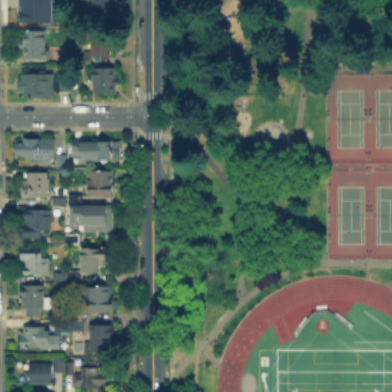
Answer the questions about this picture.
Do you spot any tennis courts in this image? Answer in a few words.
Yes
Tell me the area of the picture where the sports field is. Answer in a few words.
bottom right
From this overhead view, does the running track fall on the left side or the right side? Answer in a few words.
right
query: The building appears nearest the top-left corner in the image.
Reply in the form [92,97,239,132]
[18,0,52,24]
